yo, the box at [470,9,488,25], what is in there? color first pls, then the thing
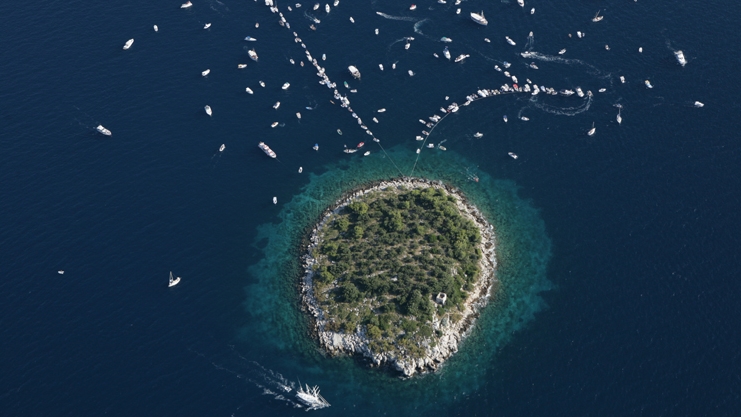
white boat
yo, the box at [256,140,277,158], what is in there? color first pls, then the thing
white ship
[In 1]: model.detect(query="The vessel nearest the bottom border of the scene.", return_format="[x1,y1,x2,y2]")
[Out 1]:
[296,380,331,405]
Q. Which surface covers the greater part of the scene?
water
